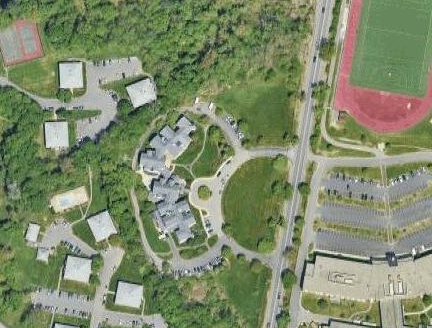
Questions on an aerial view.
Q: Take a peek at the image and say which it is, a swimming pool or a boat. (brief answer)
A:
swimming pool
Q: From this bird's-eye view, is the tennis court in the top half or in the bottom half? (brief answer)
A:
top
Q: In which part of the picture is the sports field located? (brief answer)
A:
top right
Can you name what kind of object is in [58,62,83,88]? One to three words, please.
building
